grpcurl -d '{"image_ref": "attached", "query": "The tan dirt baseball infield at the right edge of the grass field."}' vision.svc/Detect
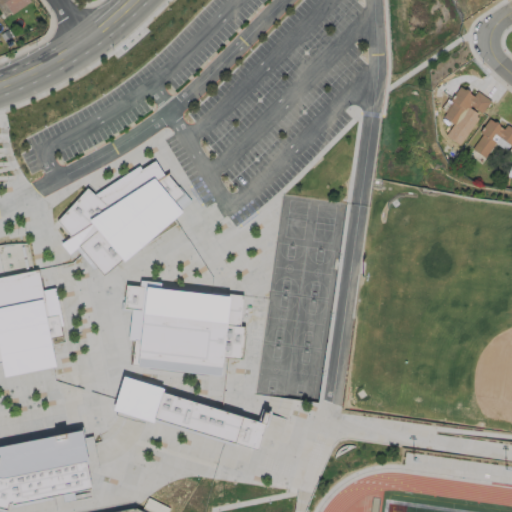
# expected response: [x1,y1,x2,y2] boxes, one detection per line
[474,327,512,423]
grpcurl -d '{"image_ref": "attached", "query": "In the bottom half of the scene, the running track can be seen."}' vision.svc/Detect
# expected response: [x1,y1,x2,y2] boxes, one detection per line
[323,473,512,512]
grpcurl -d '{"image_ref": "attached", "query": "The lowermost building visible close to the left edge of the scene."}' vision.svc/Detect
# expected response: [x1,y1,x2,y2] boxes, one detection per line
[0,431,98,510]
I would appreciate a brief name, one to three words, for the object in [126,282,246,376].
building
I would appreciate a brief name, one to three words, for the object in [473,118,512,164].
house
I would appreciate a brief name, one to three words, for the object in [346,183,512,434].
sports field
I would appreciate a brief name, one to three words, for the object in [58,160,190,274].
building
